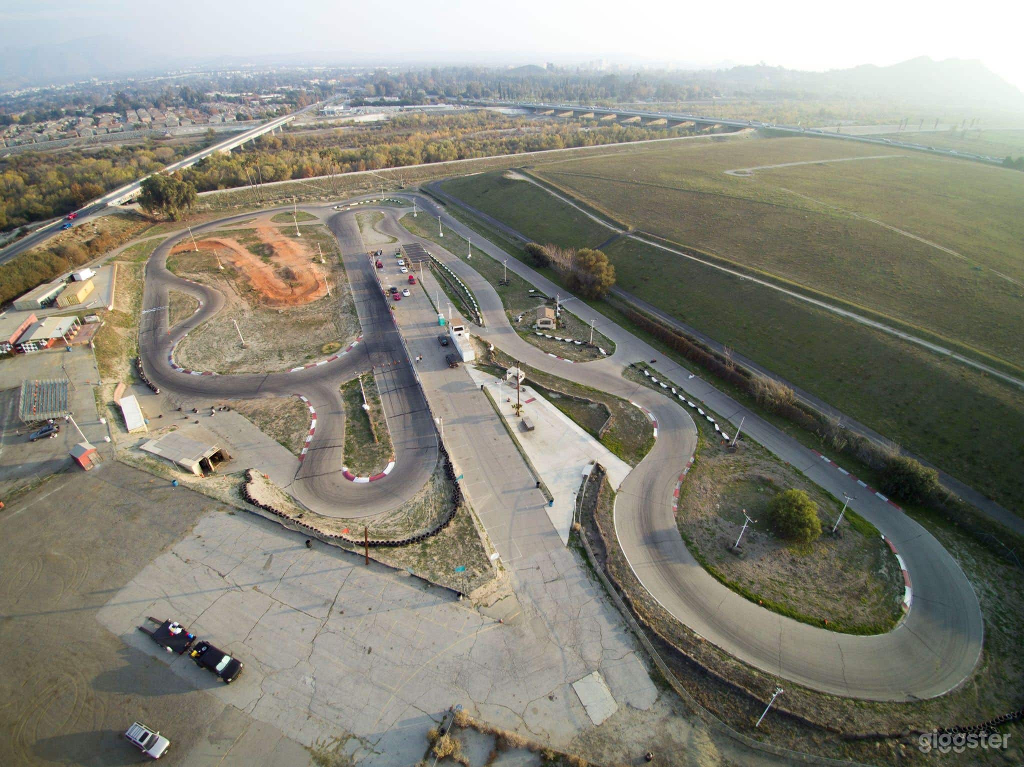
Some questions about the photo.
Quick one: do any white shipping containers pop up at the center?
No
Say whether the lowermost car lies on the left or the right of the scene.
left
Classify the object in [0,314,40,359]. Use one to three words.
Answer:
building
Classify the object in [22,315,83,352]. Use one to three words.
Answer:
building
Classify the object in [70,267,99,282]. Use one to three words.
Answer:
vehicle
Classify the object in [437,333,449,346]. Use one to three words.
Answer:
vehicle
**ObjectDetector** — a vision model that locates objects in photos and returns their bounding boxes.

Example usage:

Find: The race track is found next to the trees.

[126,192,983,702]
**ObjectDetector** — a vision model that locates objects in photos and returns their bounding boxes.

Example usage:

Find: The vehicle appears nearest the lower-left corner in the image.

[118,718,173,762]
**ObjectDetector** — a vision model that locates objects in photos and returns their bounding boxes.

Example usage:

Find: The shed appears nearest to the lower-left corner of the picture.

[54,444,108,471]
